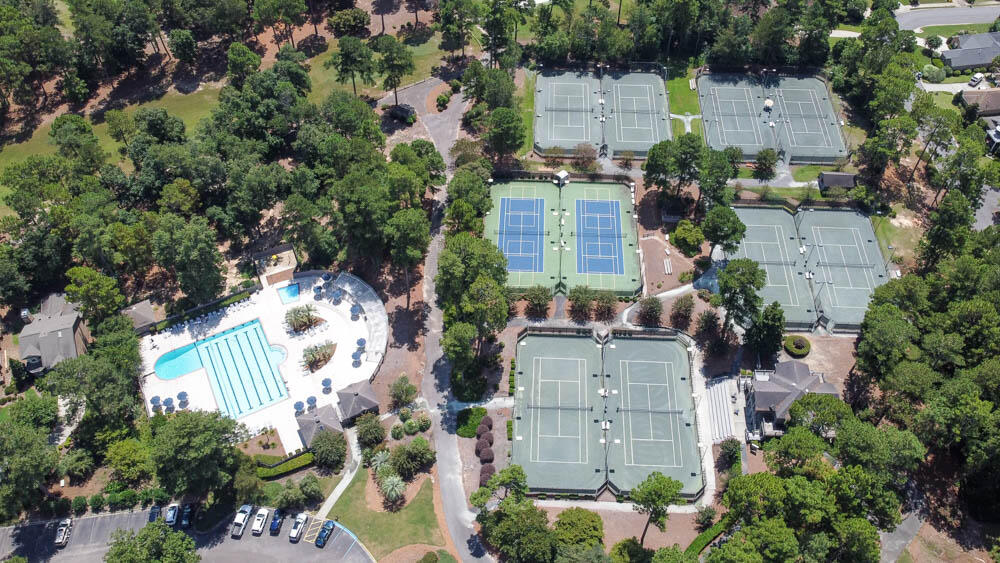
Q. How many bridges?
0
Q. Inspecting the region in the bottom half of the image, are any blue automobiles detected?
Yes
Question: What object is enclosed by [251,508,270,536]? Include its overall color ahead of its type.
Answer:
white car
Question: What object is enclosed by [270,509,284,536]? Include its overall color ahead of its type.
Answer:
blue car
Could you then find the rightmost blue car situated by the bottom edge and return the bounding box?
[315,520,335,547]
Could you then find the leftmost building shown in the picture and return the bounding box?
[15,287,98,385]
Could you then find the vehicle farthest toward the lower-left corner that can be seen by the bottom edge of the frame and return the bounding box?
[51,518,74,545]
